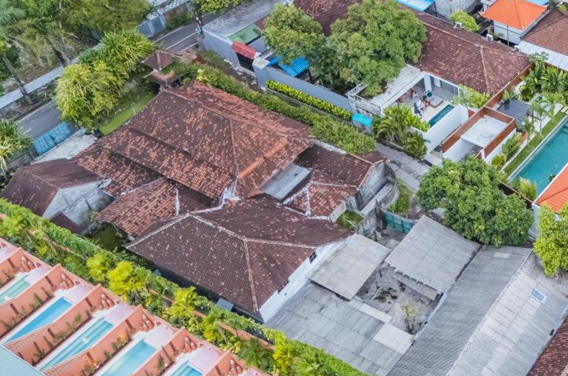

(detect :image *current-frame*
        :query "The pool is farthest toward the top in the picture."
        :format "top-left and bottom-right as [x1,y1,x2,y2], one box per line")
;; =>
[428,105,453,128]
